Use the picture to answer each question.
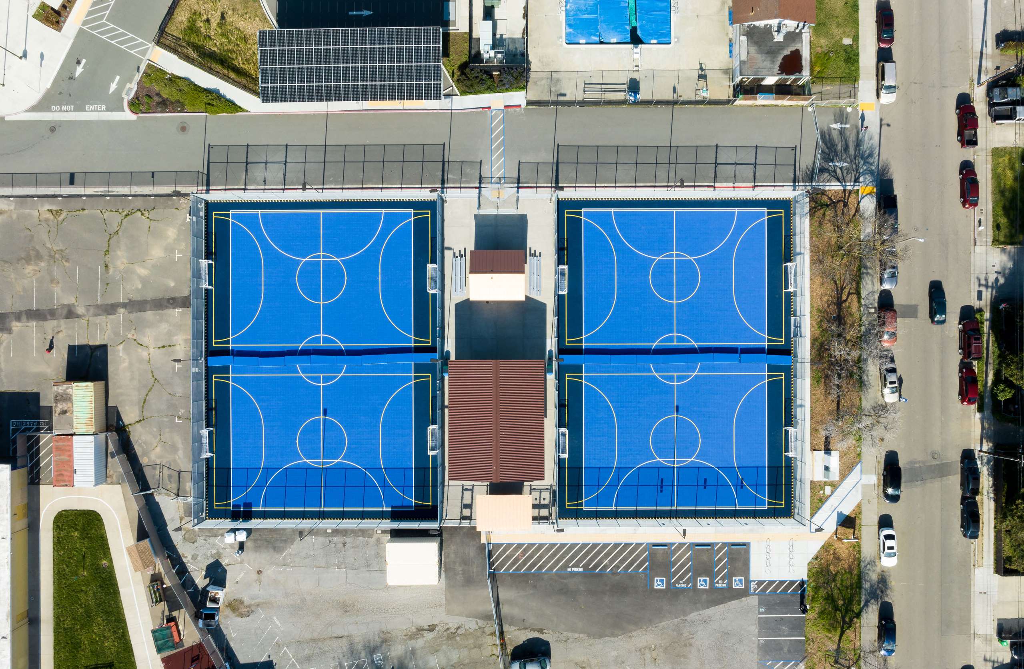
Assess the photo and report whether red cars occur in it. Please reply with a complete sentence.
Yes, there is a red car in the image.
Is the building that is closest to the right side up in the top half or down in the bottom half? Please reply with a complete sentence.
The building that is closest to the right side is in the top half of the image.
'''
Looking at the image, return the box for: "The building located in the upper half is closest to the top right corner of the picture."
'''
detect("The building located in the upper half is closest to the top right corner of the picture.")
[732,0,816,96]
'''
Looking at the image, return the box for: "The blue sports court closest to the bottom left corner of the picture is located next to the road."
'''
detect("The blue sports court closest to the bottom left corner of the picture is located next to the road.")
[206,199,445,521]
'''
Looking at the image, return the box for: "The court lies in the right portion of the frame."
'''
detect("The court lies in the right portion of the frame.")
[557,198,794,521]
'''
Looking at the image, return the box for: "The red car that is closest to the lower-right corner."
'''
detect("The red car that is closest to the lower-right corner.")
[958,368,980,405]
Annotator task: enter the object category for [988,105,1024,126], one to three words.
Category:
truck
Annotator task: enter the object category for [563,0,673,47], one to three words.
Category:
swimming pool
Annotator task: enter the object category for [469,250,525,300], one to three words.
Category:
building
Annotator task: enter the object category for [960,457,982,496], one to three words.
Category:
car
